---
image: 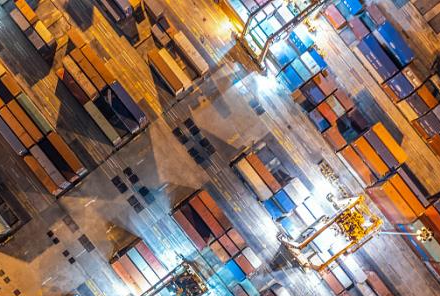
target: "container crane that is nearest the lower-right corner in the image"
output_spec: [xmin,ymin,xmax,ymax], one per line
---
[277,193,383,275]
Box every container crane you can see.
[122,252,213,296]
[277,193,383,275]
[230,0,325,70]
